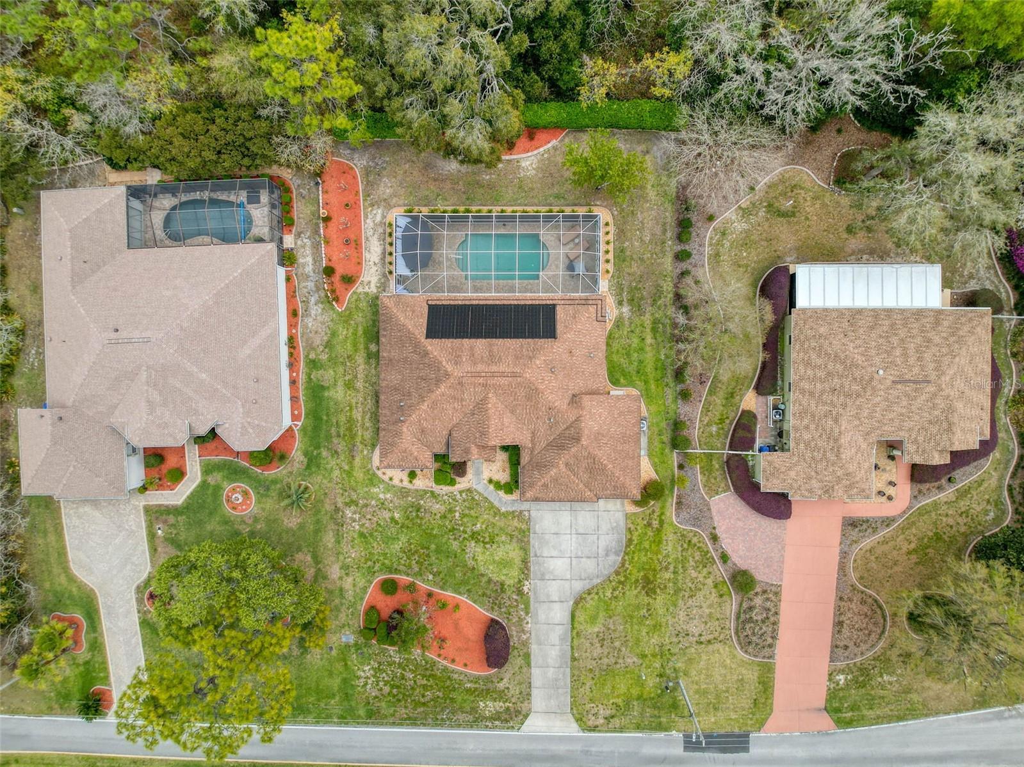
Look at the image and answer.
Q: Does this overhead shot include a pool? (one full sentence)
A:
Yes, the picture does show a pool.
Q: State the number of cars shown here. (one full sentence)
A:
Not a single car can be seen.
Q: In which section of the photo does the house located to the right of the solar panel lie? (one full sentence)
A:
The house located to the right of the solar panel is in the right part of the image.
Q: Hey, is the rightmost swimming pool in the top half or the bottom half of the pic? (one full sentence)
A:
Seen from above, the rightmost swimming pool lies in the top half of the view.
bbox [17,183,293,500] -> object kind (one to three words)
house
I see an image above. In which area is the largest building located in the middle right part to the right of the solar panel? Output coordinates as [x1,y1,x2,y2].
[753,263,992,501]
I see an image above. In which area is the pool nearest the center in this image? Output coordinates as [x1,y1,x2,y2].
[455,233,551,282]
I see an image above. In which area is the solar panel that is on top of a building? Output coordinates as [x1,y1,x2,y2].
[426,299,606,338]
